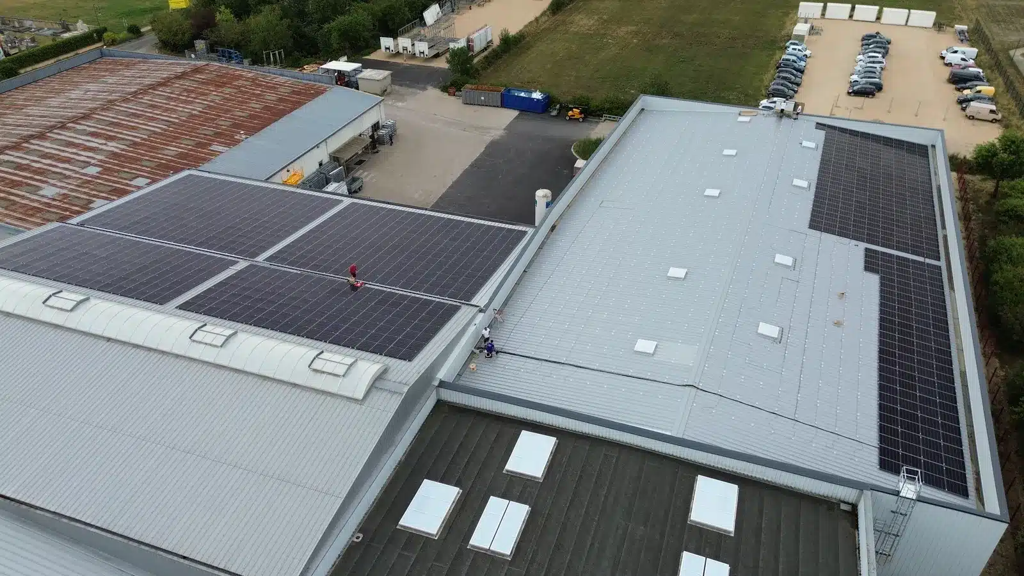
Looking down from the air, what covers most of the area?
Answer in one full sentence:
Most of the picture is covered by buildings.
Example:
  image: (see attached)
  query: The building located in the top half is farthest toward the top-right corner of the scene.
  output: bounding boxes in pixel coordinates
[908,7,937,28]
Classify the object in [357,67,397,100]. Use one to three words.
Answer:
shed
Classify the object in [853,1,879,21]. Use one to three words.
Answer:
building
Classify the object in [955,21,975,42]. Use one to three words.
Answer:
vehicle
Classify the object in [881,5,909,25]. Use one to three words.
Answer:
building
